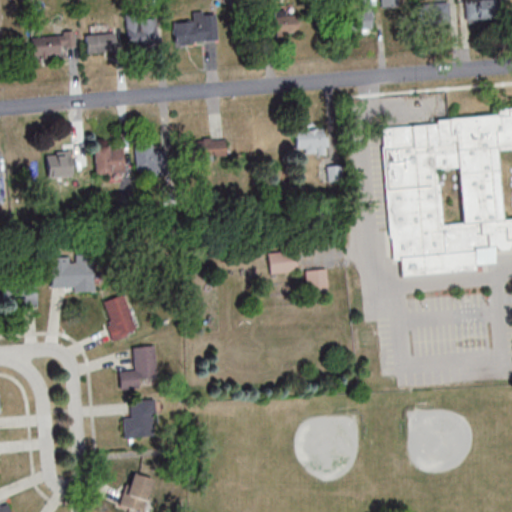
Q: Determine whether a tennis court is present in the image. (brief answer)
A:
No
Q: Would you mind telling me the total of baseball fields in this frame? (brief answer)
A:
two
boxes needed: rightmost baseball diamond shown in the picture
[407,408,472,474]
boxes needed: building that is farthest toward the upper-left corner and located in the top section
[32,32,75,56]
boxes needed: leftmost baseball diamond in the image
[294,415,359,482]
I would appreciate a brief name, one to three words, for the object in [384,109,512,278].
building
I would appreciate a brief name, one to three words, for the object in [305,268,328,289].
building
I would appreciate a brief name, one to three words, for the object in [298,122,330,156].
house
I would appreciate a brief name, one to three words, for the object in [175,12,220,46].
house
